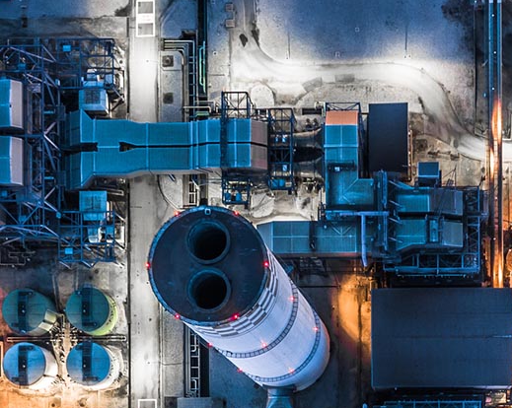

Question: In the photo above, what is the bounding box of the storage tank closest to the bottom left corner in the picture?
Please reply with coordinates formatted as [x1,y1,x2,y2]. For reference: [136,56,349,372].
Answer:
[0,342,61,393]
